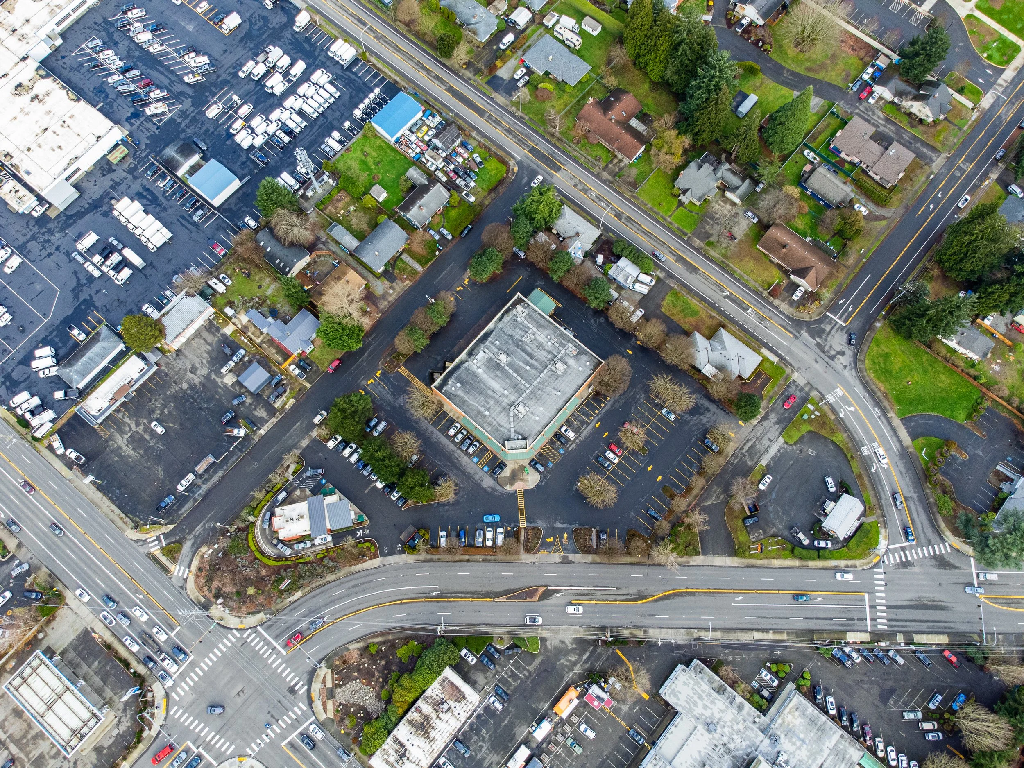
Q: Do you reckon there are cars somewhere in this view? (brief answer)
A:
Yes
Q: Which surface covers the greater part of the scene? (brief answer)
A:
paved ground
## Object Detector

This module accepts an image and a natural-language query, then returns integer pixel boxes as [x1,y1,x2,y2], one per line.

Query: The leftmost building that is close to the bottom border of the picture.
[369,666,483,768]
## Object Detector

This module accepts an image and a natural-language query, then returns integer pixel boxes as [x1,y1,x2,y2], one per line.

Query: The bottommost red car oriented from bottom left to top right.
[155,744,172,764]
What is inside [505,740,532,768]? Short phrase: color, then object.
white truck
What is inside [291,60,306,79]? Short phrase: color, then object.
white vehicle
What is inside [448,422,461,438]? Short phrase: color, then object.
white vehicle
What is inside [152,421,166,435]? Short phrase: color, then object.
white car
